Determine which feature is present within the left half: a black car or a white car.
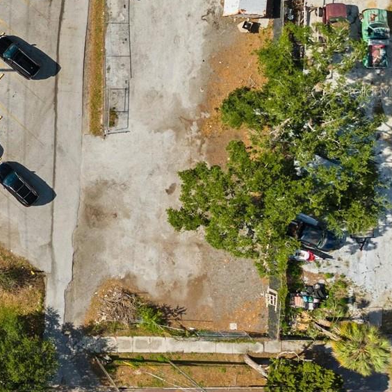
black car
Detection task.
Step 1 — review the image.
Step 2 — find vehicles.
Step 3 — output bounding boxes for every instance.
[0,162,42,210]
[326,0,355,50]
[295,212,352,251]
[0,35,45,80]
[362,9,392,69]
